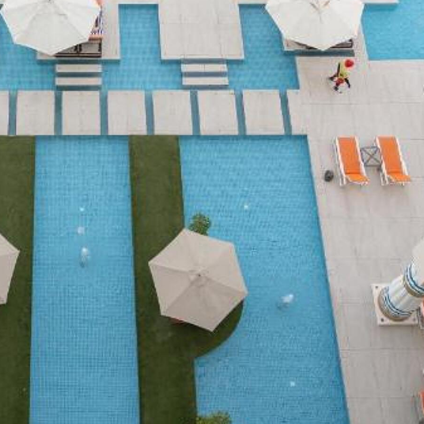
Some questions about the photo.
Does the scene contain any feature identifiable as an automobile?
No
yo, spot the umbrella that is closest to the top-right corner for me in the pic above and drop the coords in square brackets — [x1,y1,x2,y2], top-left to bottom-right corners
[267,0,363,59]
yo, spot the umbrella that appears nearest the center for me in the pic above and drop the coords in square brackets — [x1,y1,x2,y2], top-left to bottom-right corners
[147,228,249,332]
